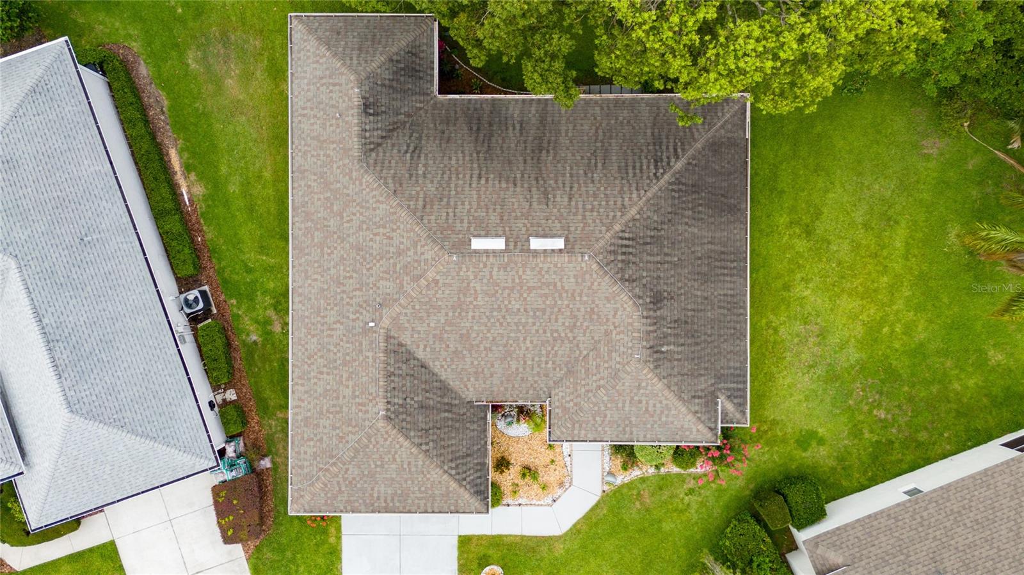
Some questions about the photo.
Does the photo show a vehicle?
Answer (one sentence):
No, I find no vehicle anywhere in the image.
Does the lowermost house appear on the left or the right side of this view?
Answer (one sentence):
It is on the right.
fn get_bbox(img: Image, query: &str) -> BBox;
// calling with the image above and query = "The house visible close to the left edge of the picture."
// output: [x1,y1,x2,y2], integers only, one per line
[0,37,239,531]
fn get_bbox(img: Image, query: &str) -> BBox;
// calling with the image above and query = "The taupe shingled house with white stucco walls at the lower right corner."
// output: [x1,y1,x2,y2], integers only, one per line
[789,427,1024,575]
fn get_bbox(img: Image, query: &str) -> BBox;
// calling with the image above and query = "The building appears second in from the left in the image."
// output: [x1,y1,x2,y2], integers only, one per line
[289,14,749,514]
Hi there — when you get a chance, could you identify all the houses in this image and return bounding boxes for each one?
[289,14,749,514]
[0,37,239,531]
[789,427,1024,575]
